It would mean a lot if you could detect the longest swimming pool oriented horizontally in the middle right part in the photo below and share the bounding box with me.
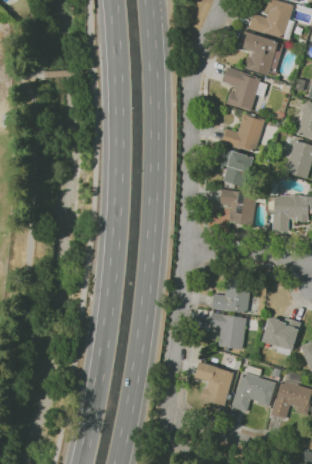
[277,178,312,196]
